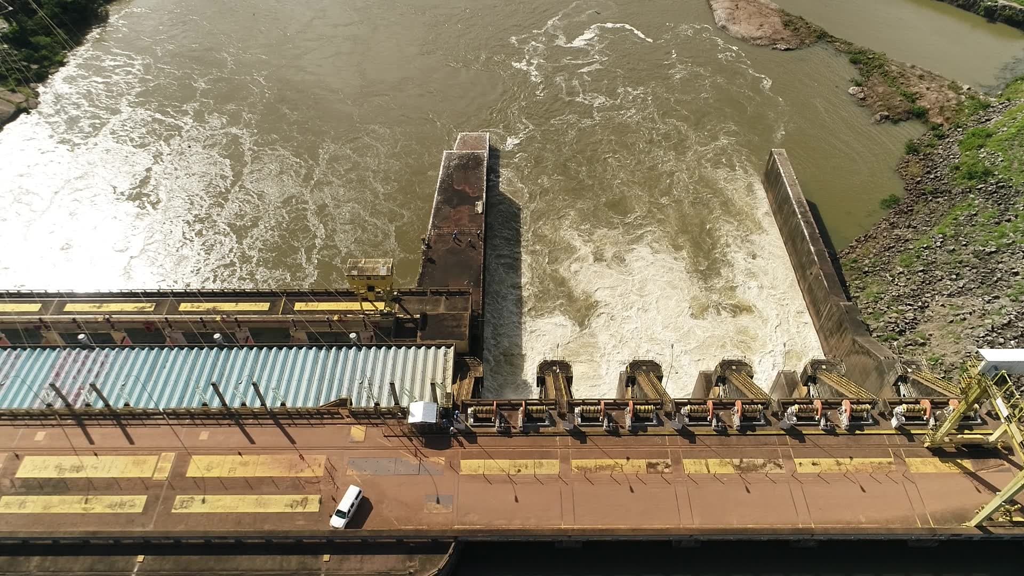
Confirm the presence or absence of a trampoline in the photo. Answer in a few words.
No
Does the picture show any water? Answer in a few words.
Yes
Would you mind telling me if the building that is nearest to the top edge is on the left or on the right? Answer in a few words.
left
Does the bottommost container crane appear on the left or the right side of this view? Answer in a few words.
right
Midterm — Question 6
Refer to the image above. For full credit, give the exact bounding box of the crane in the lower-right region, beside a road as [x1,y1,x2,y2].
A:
[929,350,1024,528]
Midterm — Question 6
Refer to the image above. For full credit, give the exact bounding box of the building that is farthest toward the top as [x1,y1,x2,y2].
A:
[0,338,457,407]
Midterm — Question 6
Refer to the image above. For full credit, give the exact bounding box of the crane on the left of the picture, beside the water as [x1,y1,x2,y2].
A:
[346,258,402,320]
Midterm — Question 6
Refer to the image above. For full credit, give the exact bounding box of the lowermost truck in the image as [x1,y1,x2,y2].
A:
[334,481,367,530]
